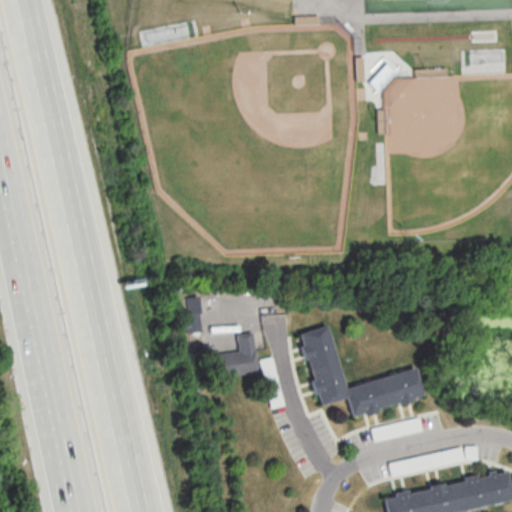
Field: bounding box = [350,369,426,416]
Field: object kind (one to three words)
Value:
building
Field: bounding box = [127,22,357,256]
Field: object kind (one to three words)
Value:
baseball field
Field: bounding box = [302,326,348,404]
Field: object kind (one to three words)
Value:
building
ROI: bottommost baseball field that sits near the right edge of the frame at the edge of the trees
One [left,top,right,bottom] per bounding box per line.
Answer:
[384,74,512,236]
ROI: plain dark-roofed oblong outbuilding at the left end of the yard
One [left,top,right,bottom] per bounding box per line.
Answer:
[186,298,202,333]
